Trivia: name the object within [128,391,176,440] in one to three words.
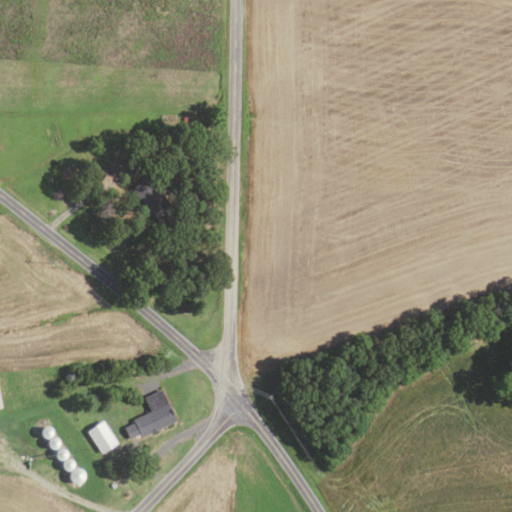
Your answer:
house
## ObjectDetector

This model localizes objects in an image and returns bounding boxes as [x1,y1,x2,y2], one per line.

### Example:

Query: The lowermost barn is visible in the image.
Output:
[88,421,120,454]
